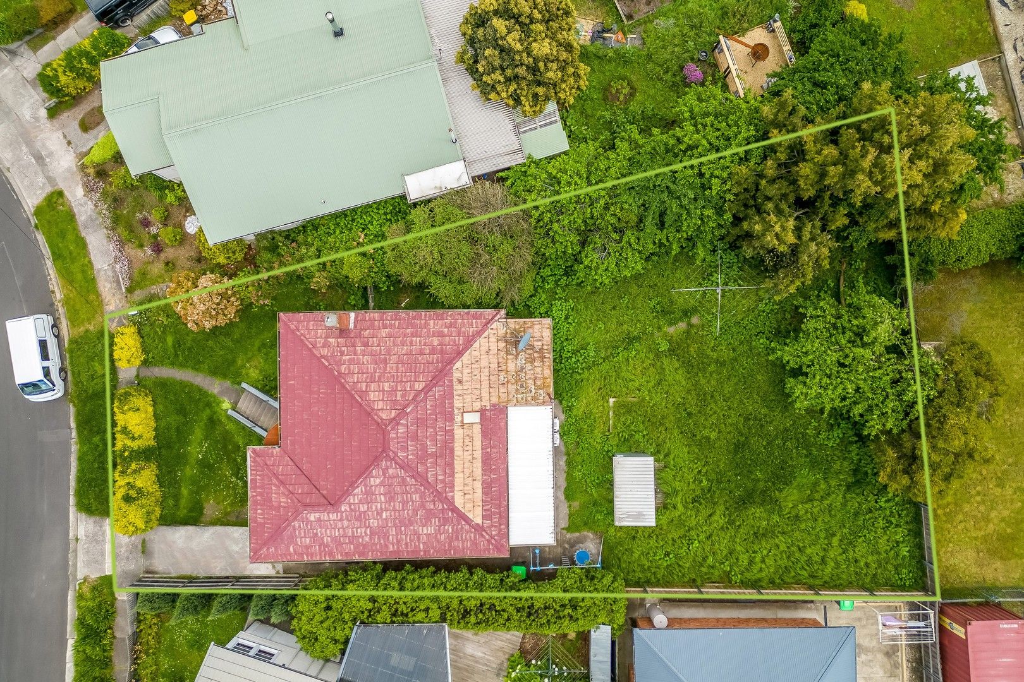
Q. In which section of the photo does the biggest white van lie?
left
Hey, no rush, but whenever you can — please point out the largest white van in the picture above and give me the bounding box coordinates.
[5,313,68,404]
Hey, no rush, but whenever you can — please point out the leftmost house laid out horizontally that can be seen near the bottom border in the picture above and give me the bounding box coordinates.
[195,623,341,682]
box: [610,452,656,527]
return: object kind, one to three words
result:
shed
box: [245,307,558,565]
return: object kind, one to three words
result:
house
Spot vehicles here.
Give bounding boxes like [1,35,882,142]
[85,0,162,30]
[5,313,68,404]
[127,16,189,50]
